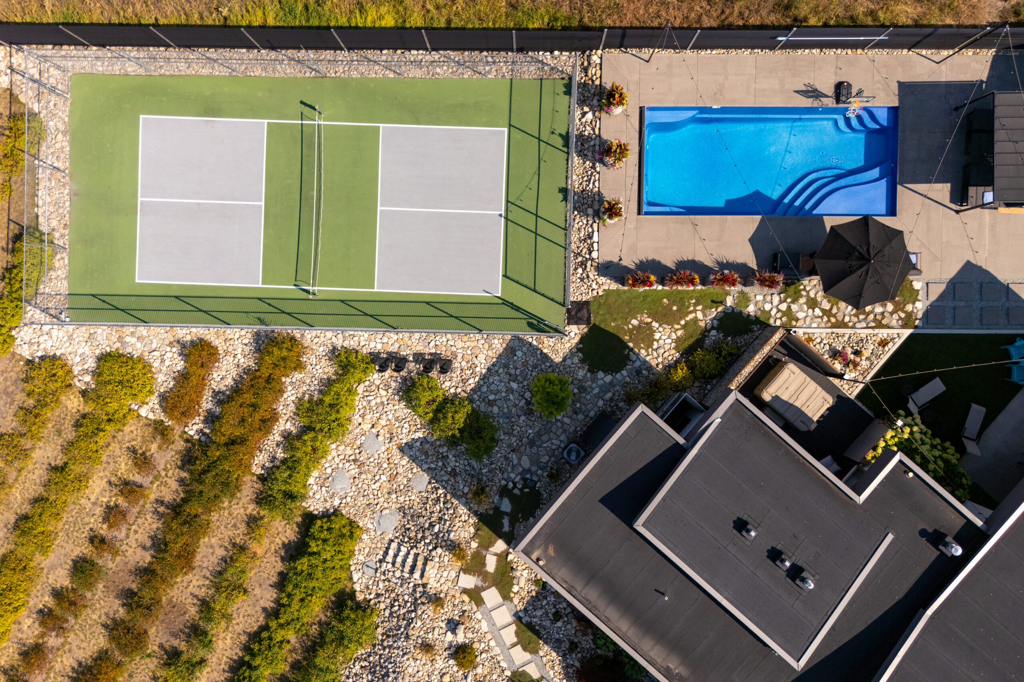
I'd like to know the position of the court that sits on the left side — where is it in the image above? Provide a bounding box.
[68,73,572,335]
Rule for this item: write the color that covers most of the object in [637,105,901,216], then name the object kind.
blue swimming pool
